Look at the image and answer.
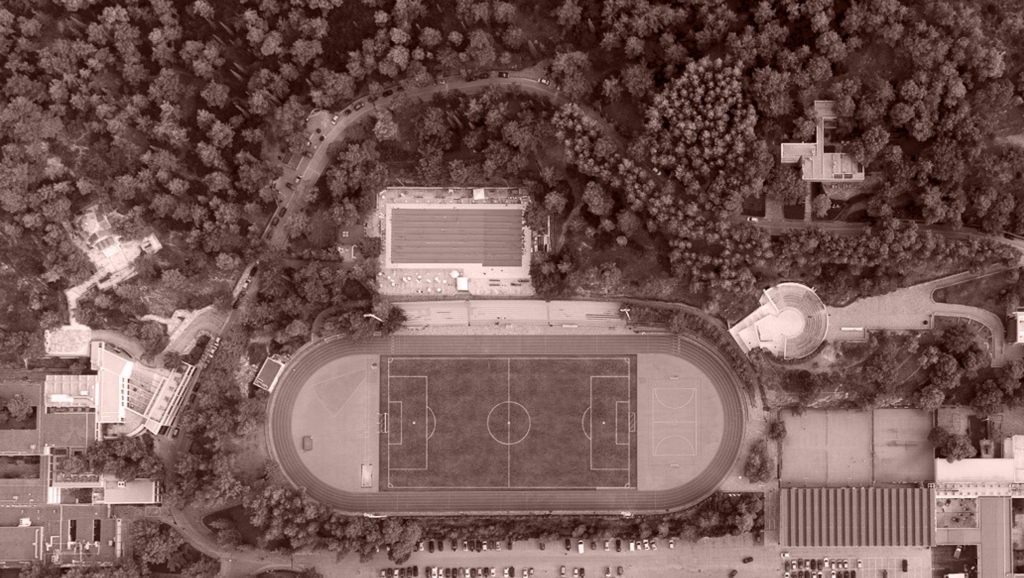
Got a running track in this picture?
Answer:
Yes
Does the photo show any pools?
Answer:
Yes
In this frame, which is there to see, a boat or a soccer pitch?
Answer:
soccer pitch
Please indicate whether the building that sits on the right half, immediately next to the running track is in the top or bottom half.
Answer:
bottom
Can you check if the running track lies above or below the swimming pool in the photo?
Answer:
below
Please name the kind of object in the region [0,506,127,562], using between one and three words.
building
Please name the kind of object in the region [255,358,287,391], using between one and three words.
building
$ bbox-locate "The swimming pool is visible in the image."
[386,204,531,278]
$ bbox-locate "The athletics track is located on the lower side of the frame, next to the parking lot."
[266,329,749,518]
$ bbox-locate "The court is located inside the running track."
[637,354,723,492]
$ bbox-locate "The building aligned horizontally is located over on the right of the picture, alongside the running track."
[779,484,935,547]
